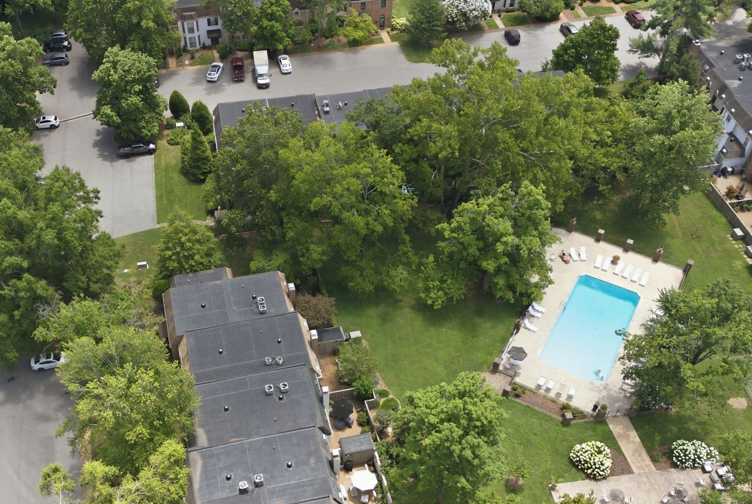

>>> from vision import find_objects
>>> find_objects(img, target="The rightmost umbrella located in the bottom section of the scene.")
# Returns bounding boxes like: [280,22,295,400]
[505,344,530,367]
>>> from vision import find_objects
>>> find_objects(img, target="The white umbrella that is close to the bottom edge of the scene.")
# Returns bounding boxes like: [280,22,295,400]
[350,470,378,495]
